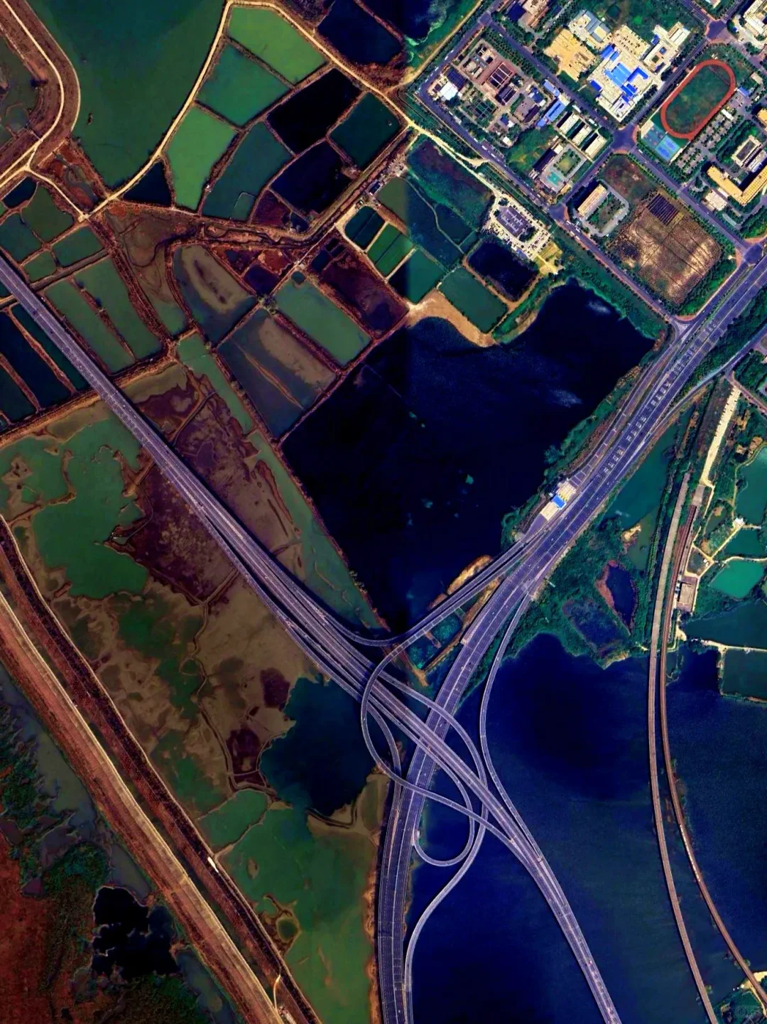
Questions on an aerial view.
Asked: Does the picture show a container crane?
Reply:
No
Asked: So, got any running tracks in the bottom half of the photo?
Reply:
No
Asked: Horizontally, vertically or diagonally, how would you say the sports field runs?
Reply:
diagonally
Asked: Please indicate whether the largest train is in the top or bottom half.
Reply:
bottom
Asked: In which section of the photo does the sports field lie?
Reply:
top right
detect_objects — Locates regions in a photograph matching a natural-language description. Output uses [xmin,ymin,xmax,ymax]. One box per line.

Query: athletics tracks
[661,60,736,139]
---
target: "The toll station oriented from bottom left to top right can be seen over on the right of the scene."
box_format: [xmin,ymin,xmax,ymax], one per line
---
[543,413,626,519]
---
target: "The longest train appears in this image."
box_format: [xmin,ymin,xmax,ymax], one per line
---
[682,821,702,879]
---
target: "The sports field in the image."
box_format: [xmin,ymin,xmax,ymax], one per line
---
[667,65,731,130]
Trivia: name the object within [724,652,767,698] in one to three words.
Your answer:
pond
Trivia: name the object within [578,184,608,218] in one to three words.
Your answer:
building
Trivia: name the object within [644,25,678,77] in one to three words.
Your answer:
building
